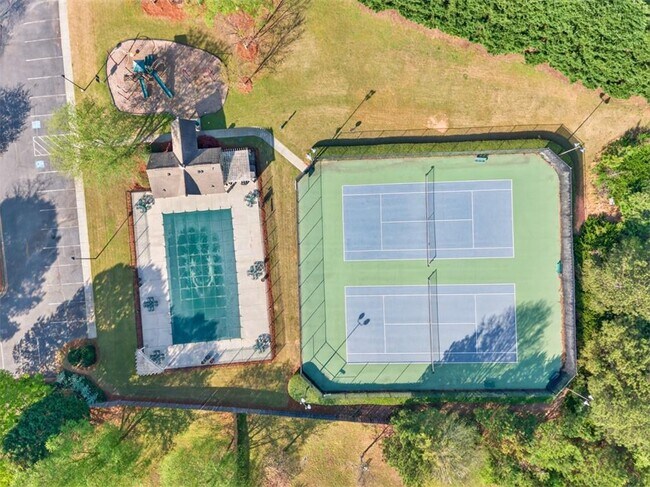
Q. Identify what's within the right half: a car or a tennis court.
tennis court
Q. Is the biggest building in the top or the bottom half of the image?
top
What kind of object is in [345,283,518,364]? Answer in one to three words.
tennis court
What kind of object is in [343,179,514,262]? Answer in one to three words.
tennis court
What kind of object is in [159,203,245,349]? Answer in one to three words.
swimming pool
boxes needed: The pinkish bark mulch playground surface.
[108,39,227,116]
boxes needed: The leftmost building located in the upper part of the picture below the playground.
[146,111,229,199]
